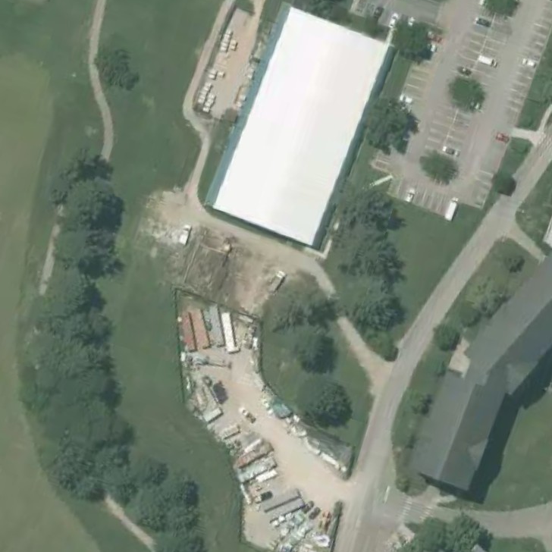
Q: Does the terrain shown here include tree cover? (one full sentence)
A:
Yes, there's tree cover in this view.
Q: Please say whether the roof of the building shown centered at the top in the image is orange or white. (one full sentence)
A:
The roof of the building shown centered at the top looks white in the image.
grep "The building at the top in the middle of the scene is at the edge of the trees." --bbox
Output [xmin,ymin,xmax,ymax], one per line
[200,6,397,250]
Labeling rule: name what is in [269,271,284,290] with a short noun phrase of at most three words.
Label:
vehicle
